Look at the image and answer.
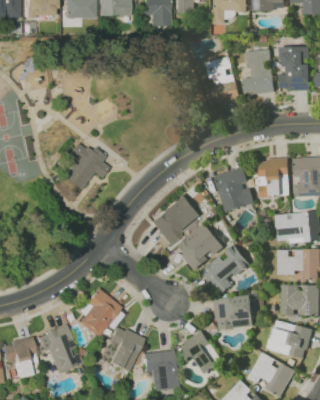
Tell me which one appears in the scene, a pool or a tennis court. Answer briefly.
pool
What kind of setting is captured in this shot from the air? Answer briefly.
residential area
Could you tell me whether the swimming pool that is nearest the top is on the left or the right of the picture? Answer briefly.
right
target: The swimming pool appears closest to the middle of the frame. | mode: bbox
[230,206,258,235]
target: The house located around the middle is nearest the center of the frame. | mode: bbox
[156,199,201,242]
